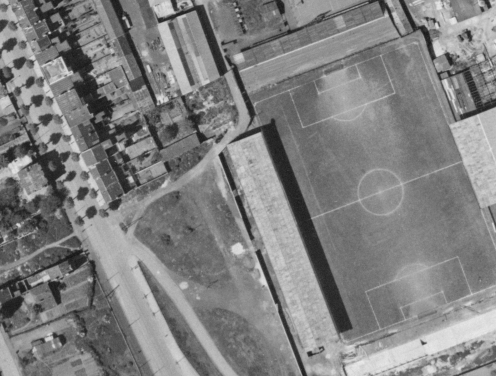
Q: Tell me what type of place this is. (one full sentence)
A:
This image shows a sports ground.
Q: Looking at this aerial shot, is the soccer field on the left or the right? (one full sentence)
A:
It is on the right.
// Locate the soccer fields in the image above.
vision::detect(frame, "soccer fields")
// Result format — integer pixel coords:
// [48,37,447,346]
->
[255,36,496,344]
